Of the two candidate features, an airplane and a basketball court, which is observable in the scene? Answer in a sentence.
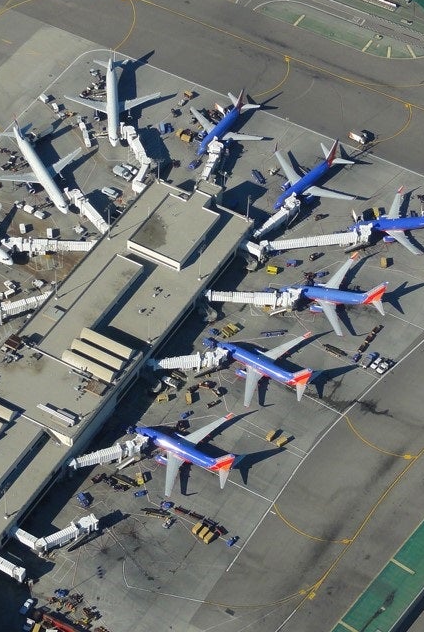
Of the two, only an airplane appears.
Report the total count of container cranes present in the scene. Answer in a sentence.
The count of container cranes is 0.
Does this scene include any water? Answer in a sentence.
No, the picture contains no water.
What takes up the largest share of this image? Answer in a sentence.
What you mostly see from above here is paved ground.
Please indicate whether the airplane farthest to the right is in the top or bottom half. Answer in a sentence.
The airplane farthest to the right is in the top half of the image.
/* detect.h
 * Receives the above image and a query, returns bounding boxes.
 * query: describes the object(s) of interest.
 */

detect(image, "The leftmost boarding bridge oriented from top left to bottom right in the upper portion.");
[64,189,111,239]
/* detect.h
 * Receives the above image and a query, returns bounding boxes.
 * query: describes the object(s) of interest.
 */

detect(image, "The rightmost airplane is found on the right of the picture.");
[349,185,424,254]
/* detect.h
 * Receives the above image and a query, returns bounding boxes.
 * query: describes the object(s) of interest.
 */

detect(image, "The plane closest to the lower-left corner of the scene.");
[136,412,247,498]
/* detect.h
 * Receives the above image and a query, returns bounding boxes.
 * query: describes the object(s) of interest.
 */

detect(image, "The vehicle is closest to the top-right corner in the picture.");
[347,125,369,144]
